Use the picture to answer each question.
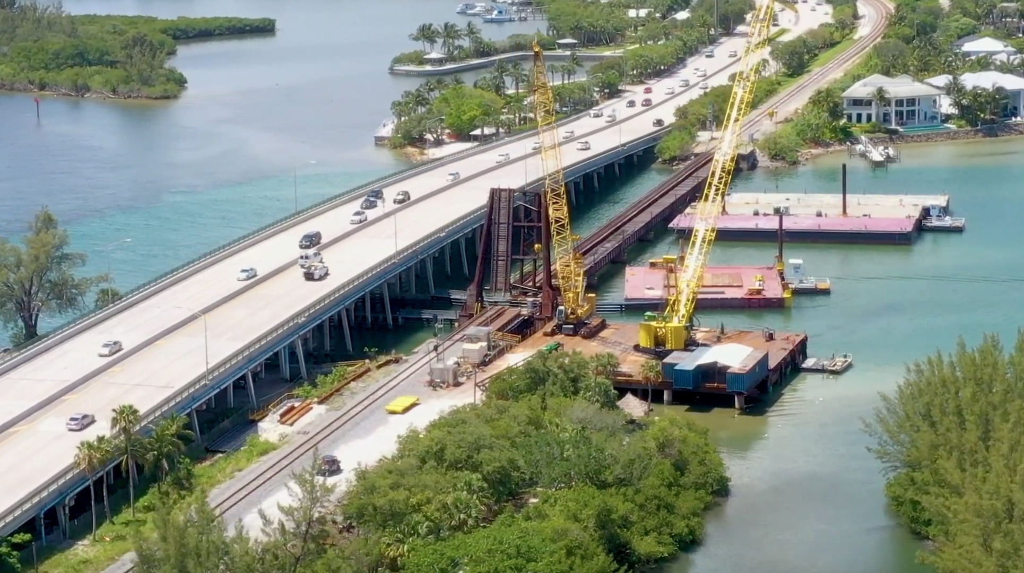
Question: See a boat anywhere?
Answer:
Yes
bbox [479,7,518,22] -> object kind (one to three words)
boat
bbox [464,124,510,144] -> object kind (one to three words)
building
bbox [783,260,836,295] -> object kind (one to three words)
boat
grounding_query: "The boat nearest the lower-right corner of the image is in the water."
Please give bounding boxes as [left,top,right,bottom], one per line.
[826,354,855,373]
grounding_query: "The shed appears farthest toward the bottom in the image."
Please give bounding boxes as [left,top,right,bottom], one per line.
[612,390,653,423]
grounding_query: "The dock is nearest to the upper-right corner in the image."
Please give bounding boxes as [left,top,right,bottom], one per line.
[857,137,890,167]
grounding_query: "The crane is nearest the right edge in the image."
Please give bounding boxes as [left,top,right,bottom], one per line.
[636,0,783,351]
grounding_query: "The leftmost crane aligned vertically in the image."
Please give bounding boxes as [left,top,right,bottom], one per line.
[531,36,602,335]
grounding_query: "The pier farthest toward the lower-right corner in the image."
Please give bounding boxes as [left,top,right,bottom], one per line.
[798,354,837,372]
